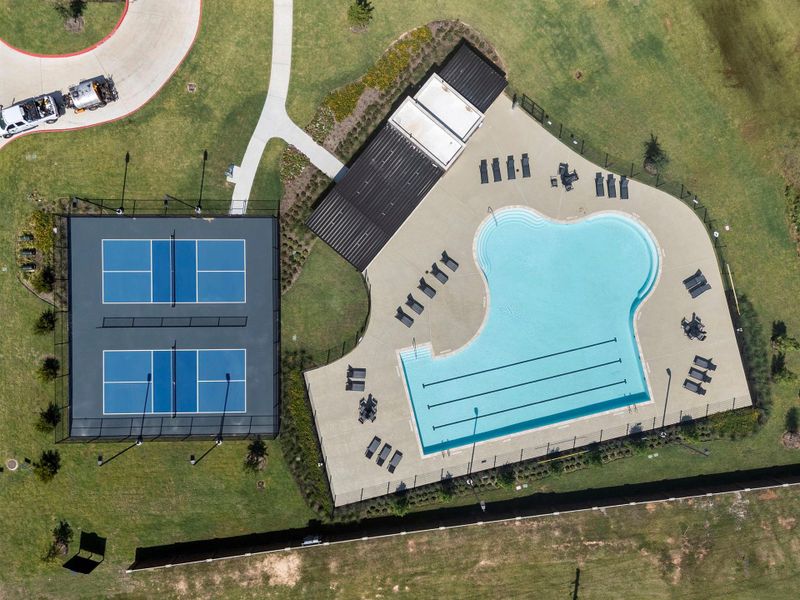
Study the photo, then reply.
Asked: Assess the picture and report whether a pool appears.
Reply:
Yes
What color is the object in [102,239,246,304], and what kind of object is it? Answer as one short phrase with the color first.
blue sports court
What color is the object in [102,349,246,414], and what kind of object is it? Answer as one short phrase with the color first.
blue sports court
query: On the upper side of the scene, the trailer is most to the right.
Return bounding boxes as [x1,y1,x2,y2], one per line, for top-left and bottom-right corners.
[60,77,120,116]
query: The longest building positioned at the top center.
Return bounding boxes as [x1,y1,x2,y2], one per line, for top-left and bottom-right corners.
[305,44,509,272]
